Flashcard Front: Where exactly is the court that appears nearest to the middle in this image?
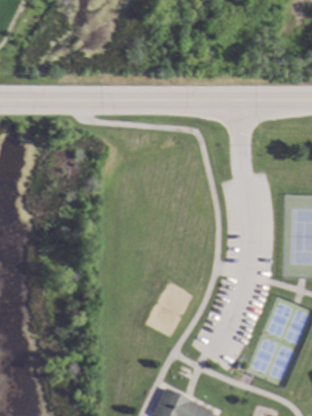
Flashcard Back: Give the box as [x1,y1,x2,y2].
[158,282,193,318]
